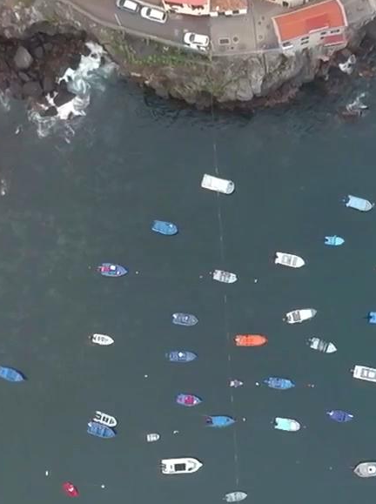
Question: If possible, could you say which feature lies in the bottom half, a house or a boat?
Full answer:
What appears in the bottom half is a boat.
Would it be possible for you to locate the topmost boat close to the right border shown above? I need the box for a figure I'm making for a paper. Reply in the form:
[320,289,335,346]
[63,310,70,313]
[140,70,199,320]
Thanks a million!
[341,194,375,210]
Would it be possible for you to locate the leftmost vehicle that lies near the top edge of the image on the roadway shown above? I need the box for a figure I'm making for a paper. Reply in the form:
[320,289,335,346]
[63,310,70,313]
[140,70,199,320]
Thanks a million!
[113,0,141,13]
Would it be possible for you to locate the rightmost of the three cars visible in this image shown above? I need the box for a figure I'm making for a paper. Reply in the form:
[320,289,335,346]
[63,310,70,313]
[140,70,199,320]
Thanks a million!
[183,29,209,45]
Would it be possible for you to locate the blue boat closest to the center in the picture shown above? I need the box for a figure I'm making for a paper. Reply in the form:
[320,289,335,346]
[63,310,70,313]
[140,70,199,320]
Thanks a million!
[150,219,178,234]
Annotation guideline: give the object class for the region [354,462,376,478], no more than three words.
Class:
boat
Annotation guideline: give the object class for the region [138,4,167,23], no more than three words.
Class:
car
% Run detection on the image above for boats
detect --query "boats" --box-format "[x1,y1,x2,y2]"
[162,351,195,361]
[175,394,202,406]
[341,194,375,210]
[0,365,23,380]
[166,312,198,324]
[304,336,336,351]
[230,334,267,346]
[270,251,305,266]
[201,174,233,192]
[229,380,242,386]
[203,416,235,428]
[280,310,316,324]
[147,433,159,441]
[86,334,113,345]
[347,365,376,381]
[62,480,77,495]
[262,377,293,389]
[90,409,117,426]
[269,417,300,430]
[220,492,246,503]
[82,421,114,435]
[363,311,376,323]
[324,235,345,245]
[150,219,178,234]
[156,458,203,475]
[213,270,238,282]
[354,462,376,478]
[94,263,128,276]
